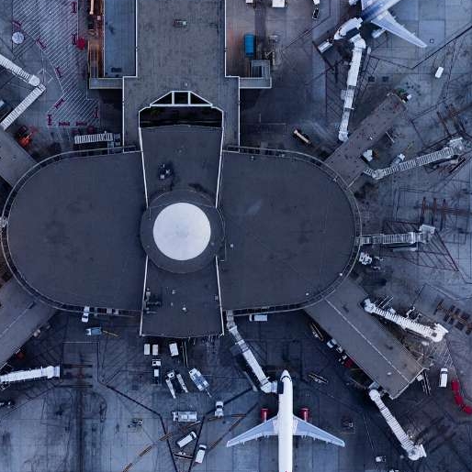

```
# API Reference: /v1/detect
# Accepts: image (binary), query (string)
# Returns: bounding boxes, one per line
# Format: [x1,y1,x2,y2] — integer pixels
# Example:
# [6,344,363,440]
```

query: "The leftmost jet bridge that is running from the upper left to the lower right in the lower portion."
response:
[225,313,284,391]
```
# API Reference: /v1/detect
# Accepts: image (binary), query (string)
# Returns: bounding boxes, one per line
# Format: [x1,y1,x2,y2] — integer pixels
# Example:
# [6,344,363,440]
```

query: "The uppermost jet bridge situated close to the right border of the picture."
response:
[362,135,464,180]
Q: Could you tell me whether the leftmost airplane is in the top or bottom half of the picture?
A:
bottom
